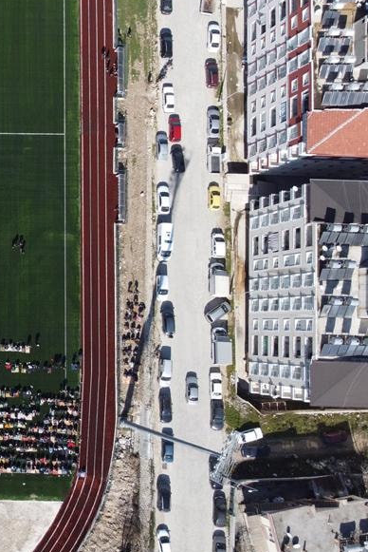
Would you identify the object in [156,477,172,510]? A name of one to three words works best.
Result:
car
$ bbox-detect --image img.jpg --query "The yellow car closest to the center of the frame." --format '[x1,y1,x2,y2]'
[207,184,222,209]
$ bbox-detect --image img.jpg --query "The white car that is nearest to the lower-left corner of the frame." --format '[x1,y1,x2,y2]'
[156,525,172,552]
